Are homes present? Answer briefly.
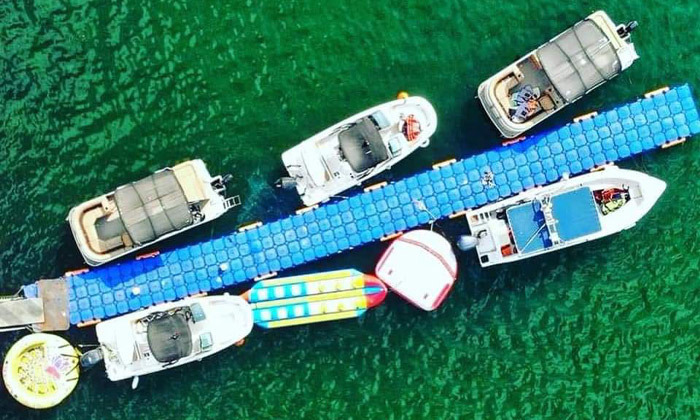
No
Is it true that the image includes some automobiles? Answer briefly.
No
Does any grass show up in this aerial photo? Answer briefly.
No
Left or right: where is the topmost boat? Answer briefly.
right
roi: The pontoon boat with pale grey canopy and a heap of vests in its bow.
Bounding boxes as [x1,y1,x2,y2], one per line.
[479,17,641,135]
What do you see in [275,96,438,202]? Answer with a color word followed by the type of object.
white boat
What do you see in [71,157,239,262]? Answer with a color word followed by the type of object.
white boat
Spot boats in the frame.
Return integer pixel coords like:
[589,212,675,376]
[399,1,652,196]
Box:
[71,157,239,262]
[83,291,256,378]
[479,17,641,135]
[275,96,438,202]
[454,166,667,267]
